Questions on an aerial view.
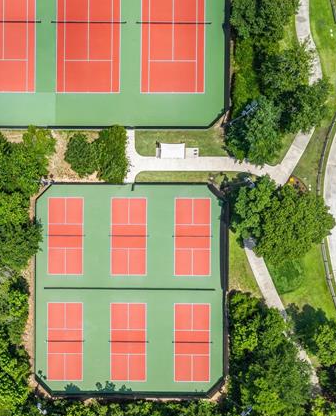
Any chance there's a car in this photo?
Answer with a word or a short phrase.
No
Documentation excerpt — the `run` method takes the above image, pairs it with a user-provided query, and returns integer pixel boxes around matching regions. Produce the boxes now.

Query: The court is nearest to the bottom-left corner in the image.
[47,302,83,381]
